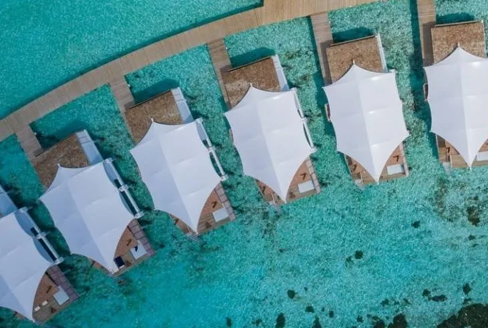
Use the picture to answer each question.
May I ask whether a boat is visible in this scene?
No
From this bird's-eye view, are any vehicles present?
No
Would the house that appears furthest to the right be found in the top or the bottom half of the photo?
top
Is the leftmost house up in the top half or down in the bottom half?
bottom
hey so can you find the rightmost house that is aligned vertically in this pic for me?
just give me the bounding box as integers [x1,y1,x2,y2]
[422,18,488,170]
